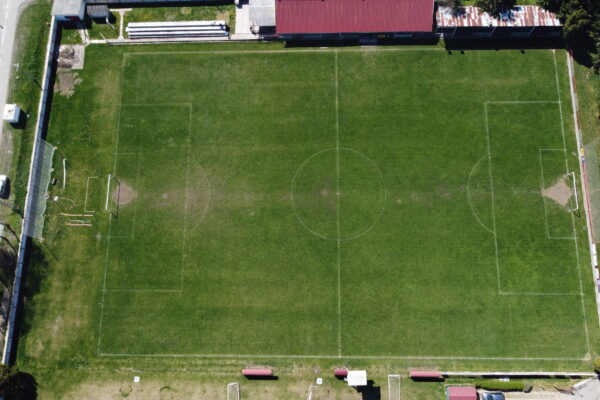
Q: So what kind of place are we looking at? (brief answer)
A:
sports ground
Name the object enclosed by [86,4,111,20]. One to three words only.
shed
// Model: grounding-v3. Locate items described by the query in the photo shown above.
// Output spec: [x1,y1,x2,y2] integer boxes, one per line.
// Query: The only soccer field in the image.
[90,44,599,364]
